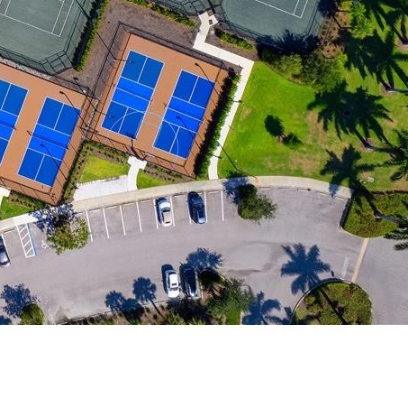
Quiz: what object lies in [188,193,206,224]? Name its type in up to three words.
car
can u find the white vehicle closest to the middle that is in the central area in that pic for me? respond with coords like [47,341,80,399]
[157,198,173,228]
